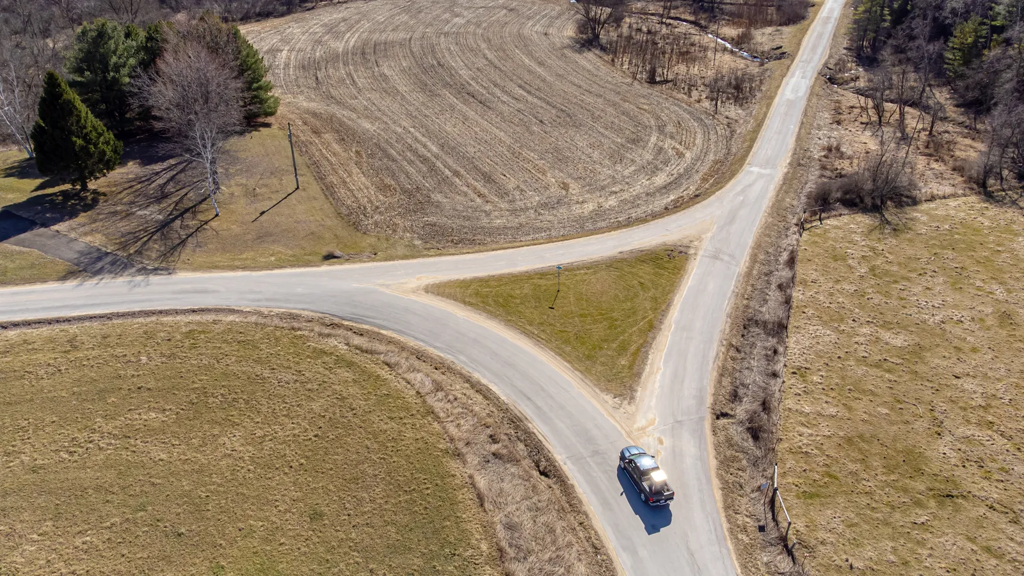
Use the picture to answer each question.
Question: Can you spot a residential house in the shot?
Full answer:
No, there is no residential house in the image.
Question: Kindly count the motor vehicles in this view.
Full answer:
The picture shows just 1 motor vehicle.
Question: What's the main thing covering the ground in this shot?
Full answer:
For the most part, this view shows farmland.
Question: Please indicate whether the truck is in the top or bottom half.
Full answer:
The truck sits in the bottom half of the picture.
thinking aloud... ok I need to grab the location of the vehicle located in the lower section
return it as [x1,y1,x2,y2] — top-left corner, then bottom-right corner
[620,445,673,503]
